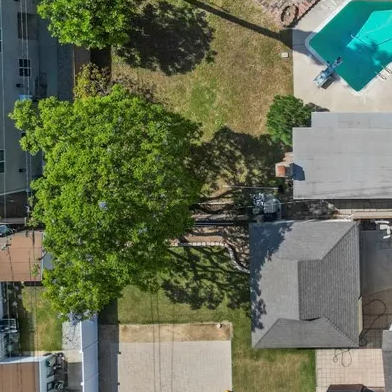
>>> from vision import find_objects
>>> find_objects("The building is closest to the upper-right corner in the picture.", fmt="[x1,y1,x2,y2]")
[292,111,392,200]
